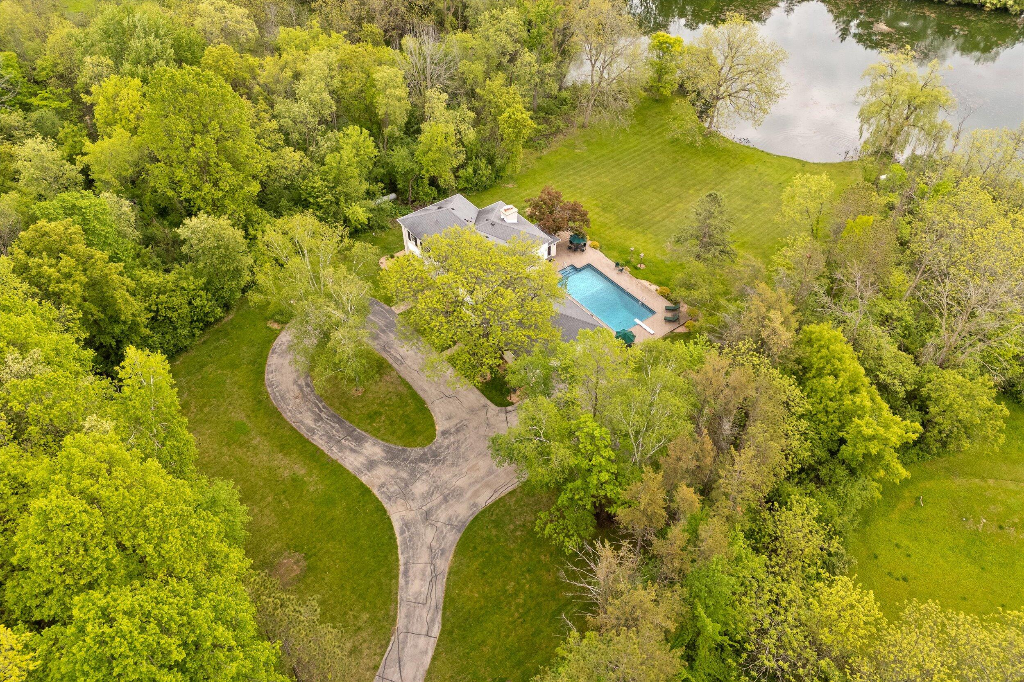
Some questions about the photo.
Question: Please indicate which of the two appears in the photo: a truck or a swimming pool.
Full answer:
I can see a swimming pool in this picture.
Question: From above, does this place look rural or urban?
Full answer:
The area is rural.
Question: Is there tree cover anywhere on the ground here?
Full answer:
Yes, tree cover shows up in the scene.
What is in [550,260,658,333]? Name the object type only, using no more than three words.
swimming pool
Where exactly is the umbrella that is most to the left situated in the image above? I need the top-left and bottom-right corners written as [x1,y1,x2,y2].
[569,234,587,247]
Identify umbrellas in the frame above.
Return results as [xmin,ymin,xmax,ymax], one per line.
[614,330,637,345]
[569,234,587,247]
